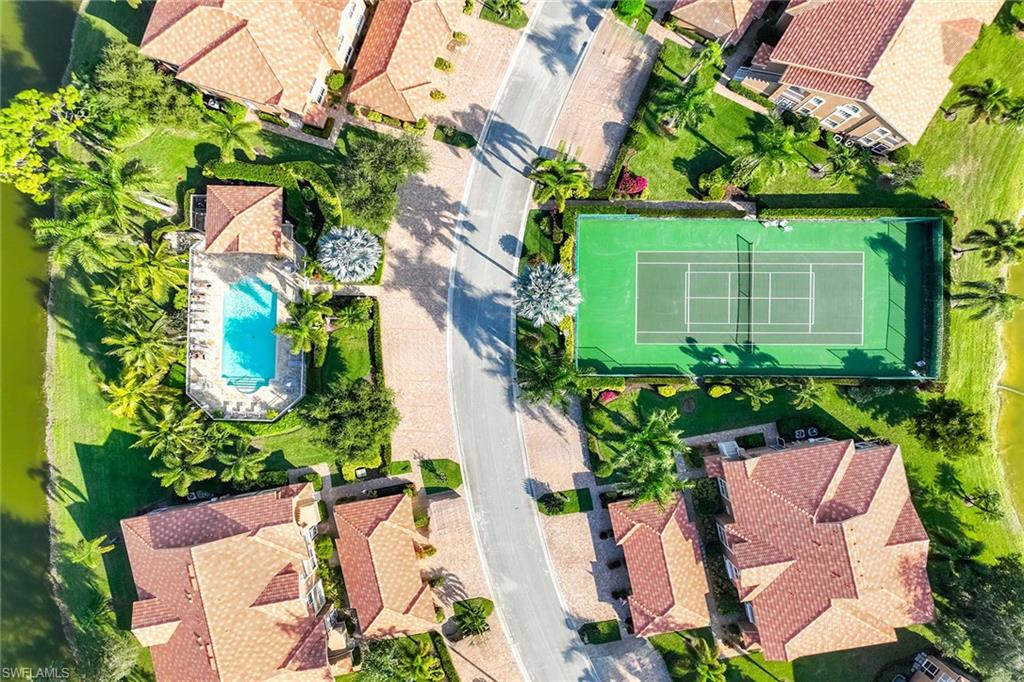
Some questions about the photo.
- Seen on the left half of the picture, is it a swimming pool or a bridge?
swimming pool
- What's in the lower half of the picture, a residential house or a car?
residential house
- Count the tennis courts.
1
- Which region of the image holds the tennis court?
right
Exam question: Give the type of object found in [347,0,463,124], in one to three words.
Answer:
building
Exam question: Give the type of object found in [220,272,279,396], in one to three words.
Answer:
swimming pool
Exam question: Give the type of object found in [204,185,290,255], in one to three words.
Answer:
building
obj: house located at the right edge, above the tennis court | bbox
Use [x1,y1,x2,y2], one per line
[735,0,1005,157]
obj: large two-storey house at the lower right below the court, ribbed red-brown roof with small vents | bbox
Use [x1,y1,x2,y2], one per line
[702,433,937,663]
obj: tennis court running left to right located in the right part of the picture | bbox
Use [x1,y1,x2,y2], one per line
[574,220,923,378]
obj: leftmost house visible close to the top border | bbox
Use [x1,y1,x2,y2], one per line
[139,0,369,126]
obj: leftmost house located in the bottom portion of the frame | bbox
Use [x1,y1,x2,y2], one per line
[119,477,358,682]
